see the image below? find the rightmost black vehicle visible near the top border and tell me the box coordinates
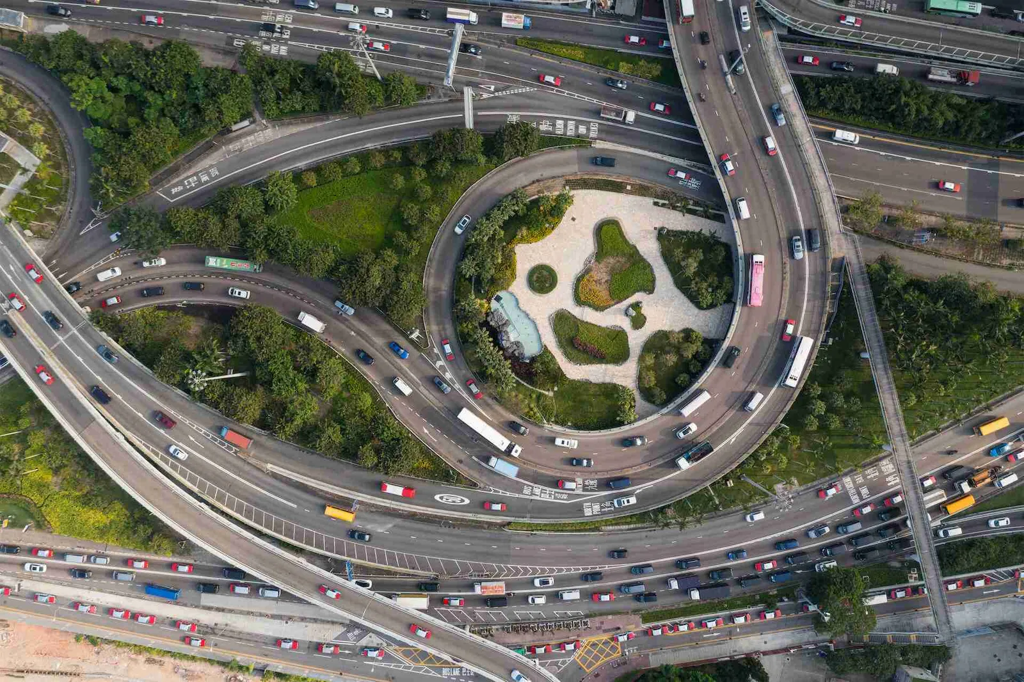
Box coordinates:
[978,5,1016,25]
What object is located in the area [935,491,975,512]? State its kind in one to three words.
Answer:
truck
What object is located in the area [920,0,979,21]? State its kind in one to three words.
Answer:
bus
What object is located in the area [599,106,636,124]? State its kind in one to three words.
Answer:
vehicle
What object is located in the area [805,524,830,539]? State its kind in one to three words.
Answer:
car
